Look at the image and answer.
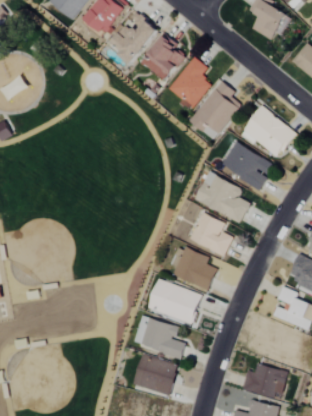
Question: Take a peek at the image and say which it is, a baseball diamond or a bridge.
baseball diamond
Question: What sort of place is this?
residential area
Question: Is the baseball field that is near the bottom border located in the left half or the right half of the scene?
left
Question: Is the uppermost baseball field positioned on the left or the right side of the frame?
left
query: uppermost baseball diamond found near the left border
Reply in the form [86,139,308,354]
[4,218,76,286]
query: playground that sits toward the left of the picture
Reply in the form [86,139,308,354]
[0,56,42,112]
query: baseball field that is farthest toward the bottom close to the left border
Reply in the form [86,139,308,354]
[6,344,76,414]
